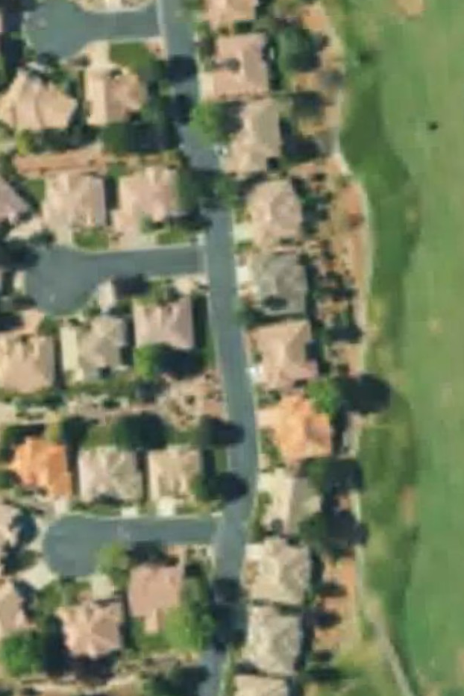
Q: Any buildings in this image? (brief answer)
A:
Yes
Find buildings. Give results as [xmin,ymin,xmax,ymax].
[7,437,71,499]
[261,469,316,533]
[78,315,129,381]
[0,176,28,231]
[78,445,145,504]
[147,449,203,504]
[0,331,56,393]
[127,565,185,635]
[247,321,317,386]
[252,253,309,317]
[0,66,75,134]
[114,169,175,232]
[197,0,258,23]
[241,609,304,675]
[245,537,311,607]
[132,300,195,351]
[212,31,269,99]
[237,676,289,696]
[43,174,107,232]
[56,604,125,658]
[0,504,22,572]
[225,98,284,170]
[0,579,37,645]
[85,69,145,126]
[270,396,332,461]
[245,180,302,251]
